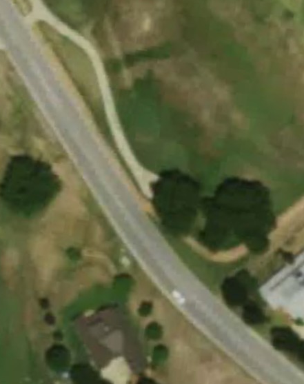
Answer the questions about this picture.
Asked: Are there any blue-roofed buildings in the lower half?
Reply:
No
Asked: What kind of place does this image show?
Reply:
golf course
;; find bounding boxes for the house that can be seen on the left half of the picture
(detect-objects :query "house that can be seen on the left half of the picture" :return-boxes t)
[77,297,151,374]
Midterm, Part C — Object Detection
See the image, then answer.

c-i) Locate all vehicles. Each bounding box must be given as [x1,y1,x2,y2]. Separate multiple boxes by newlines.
[171,289,185,304]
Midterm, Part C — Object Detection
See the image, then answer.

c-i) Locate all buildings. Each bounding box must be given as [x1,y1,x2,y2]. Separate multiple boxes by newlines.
[77,297,151,374]
[258,248,304,319]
